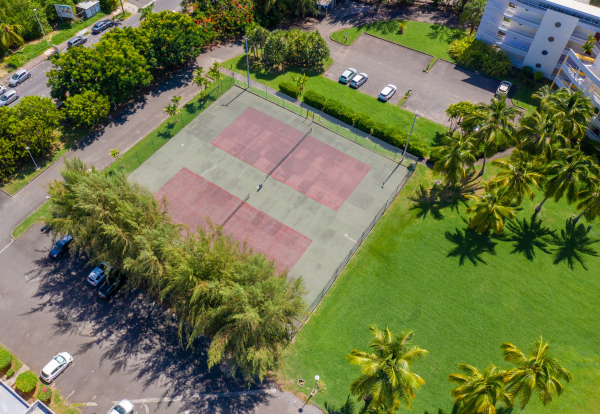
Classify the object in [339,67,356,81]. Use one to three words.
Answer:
car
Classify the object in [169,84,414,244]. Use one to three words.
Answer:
tennis court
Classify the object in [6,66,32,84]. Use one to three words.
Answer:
car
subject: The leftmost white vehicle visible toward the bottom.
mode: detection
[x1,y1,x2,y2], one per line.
[36,347,74,382]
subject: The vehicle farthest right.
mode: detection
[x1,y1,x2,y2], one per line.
[496,80,513,95]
